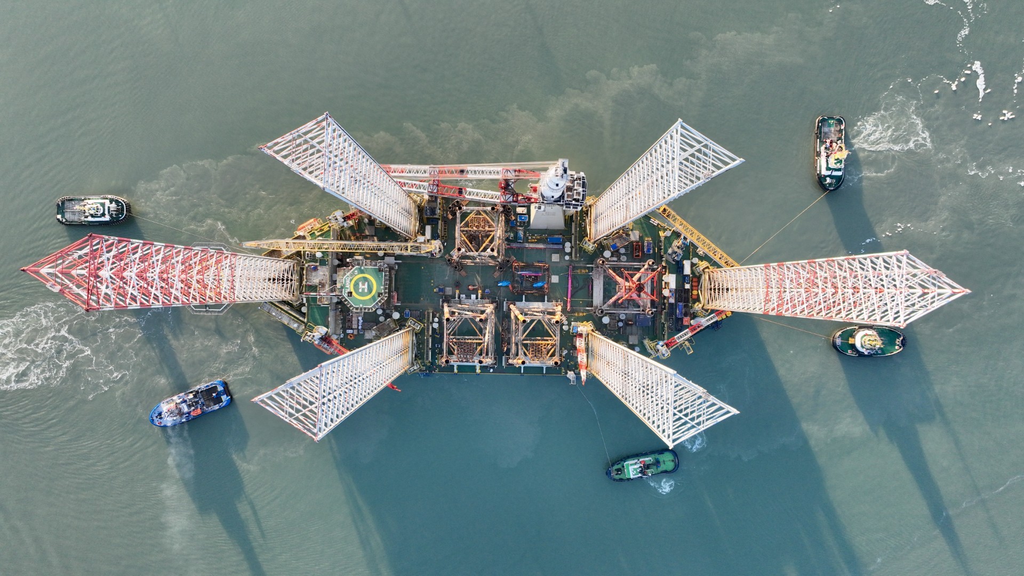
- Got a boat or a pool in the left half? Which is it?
boat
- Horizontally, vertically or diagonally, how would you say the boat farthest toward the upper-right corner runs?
vertically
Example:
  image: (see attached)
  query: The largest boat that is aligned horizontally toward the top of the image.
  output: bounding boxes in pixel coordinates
[56,195,135,225]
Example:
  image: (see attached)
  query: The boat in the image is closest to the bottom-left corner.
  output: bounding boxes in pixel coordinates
[149,378,234,427]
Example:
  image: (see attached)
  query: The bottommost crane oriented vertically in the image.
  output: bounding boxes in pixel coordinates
[572,321,587,387]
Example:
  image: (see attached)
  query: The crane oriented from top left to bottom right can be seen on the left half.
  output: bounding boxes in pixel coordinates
[303,323,402,392]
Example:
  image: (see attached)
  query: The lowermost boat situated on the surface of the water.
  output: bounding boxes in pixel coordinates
[605,449,679,481]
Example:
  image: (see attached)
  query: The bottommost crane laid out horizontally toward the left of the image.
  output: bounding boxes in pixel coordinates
[240,239,445,257]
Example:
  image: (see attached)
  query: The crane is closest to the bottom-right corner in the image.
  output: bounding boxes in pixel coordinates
[643,304,737,359]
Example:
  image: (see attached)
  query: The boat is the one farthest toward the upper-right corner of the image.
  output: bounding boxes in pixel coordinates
[812,115,849,192]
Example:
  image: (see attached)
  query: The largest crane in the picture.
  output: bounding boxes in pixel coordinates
[314,159,588,230]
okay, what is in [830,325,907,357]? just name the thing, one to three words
boat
